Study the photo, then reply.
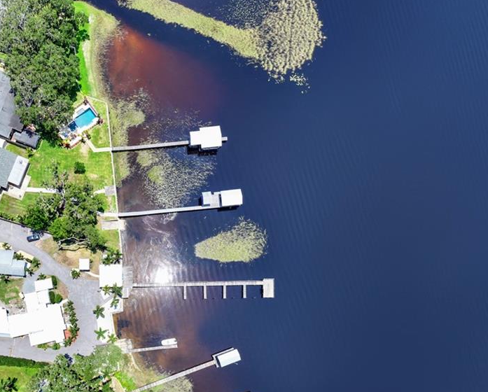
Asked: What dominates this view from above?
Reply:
water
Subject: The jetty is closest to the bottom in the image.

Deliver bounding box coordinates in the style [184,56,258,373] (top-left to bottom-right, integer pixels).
[129,346,234,392]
